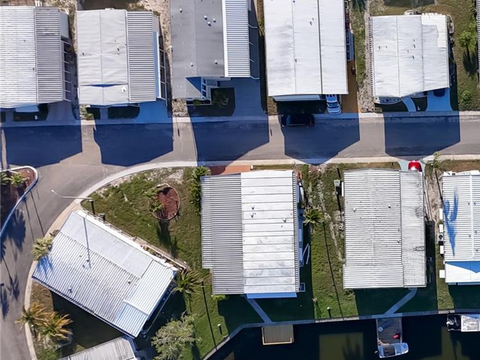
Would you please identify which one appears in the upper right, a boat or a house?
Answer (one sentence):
Looking in the upper right, you will find a house.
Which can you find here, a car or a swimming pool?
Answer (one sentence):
Looking from above, you can make out a car.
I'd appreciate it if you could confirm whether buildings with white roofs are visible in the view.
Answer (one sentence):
Yes, a building with a white roof appears in the view.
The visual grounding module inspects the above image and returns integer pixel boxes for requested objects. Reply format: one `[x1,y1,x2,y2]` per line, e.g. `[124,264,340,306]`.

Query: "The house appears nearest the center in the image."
[200,170,309,298]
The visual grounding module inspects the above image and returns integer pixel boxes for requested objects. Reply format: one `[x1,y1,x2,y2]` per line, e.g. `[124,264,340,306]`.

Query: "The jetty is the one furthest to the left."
[261,323,298,346]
